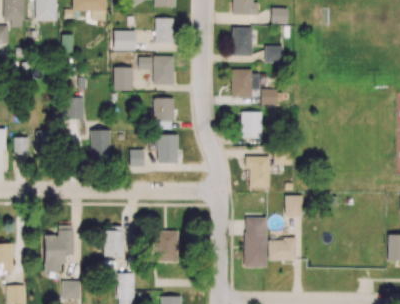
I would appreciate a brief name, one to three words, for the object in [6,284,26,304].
building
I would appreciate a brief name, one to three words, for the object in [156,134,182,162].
house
